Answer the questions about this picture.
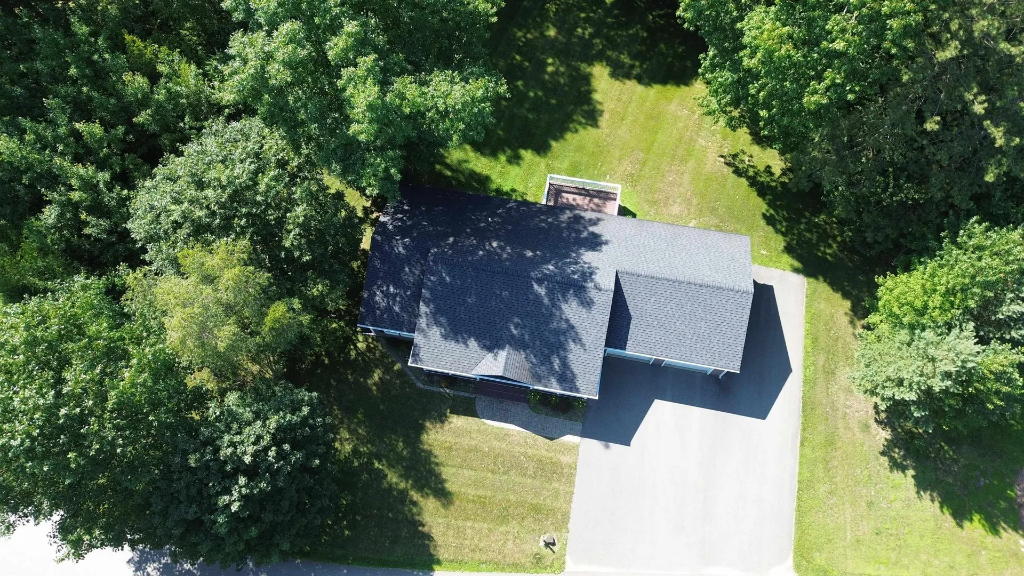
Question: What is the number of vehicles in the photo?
zero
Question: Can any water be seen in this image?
No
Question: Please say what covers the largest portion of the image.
trees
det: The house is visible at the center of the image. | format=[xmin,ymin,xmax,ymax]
[358,182,754,403]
